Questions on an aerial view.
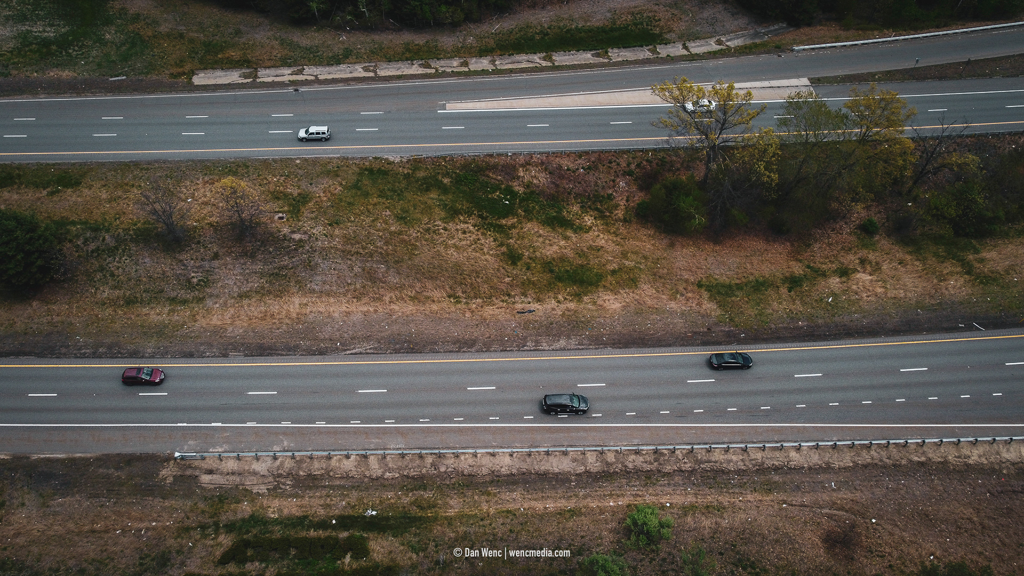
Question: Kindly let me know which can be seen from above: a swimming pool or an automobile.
automobile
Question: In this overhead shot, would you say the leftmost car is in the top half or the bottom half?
bottom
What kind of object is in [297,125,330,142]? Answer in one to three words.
car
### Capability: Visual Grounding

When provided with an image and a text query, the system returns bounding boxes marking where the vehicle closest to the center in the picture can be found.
[542,391,590,415]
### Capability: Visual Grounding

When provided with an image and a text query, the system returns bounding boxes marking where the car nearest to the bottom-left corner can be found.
[117,364,165,386]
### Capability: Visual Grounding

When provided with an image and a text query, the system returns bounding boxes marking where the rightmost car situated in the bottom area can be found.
[709,348,754,369]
